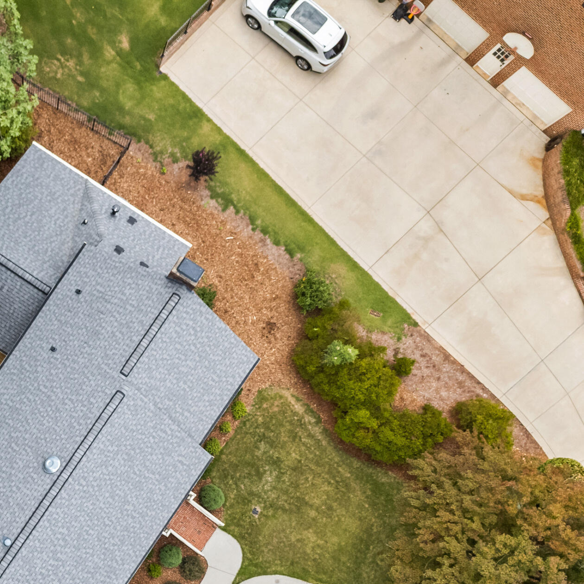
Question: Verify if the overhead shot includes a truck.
No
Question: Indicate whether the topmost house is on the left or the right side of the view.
right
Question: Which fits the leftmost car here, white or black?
white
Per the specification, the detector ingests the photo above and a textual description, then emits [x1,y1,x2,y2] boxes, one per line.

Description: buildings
[395,0,584,138]
[0,139,264,584]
